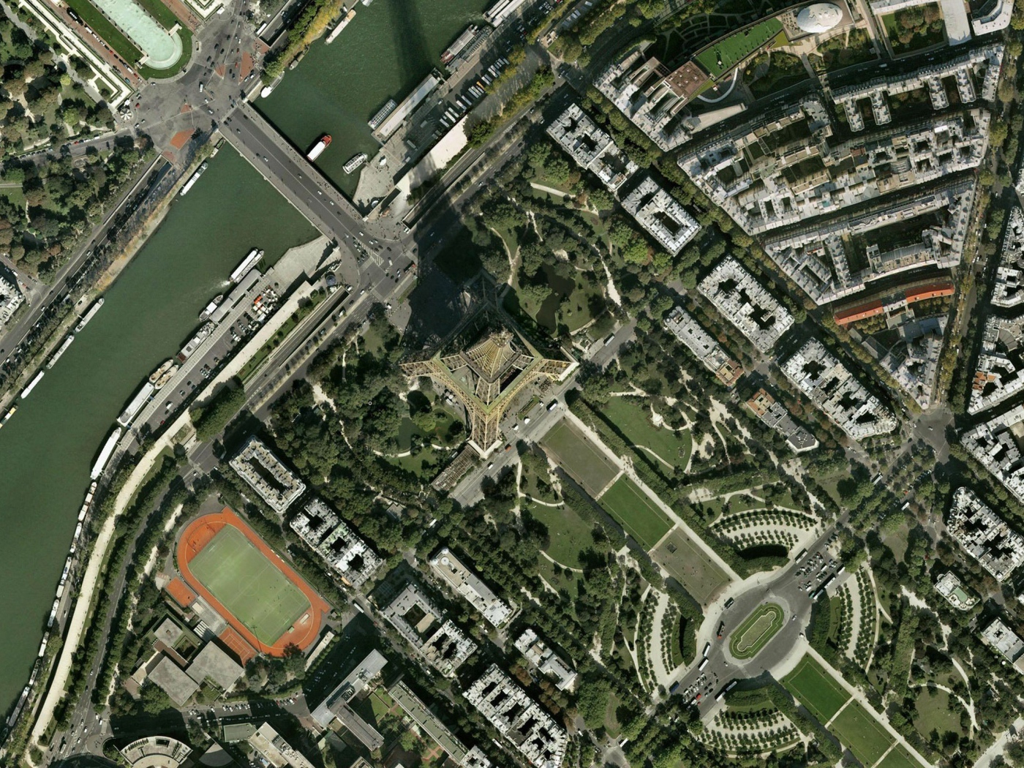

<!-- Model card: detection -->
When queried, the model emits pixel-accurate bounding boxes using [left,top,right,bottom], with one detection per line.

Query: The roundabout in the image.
[651,501,867,737]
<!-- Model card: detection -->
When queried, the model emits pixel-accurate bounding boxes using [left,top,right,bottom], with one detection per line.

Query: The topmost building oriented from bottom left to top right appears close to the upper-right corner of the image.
[970,0,1013,38]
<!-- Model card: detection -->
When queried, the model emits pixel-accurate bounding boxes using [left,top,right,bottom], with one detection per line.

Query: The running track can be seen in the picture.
[178,506,329,658]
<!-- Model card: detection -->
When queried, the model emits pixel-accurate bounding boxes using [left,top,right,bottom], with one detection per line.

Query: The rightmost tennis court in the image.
[219,626,258,666]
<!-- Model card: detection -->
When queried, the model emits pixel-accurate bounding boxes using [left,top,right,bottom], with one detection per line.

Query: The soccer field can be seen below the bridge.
[189,525,311,646]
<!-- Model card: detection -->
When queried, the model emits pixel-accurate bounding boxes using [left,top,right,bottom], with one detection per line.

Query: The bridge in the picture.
[212,98,369,240]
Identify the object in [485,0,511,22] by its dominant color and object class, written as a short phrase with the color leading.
white boat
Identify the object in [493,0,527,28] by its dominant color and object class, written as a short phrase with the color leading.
white boat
